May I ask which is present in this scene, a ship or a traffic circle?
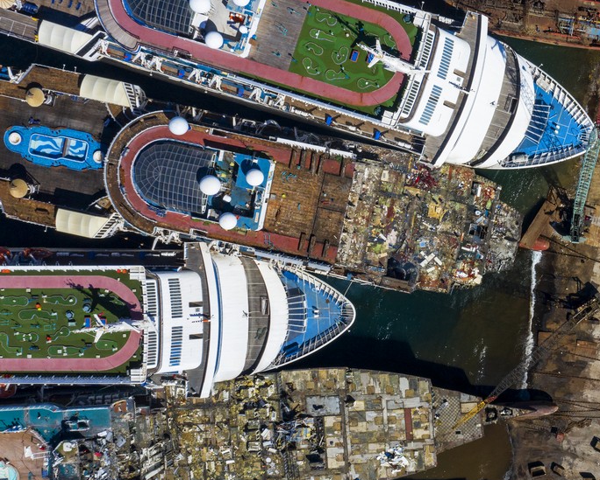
ship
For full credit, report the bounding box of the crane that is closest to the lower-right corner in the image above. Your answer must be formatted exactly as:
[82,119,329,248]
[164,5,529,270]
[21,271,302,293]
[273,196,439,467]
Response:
[450,285,600,431]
